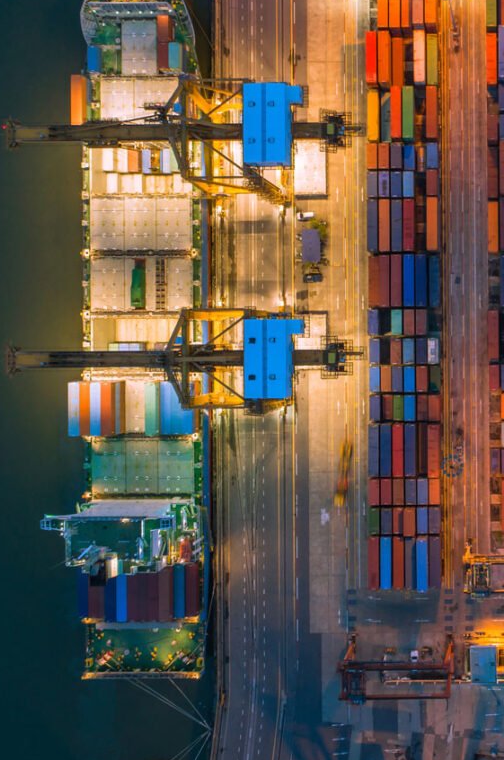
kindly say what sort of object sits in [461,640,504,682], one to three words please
shed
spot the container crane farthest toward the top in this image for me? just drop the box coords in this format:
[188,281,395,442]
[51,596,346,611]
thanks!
[4,71,367,218]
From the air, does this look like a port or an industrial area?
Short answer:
port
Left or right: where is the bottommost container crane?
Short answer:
right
